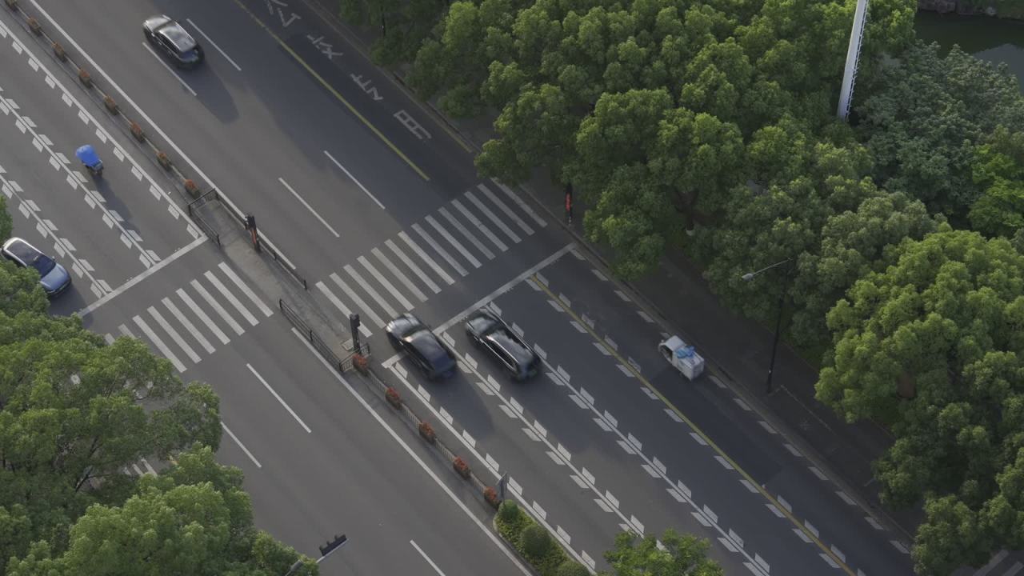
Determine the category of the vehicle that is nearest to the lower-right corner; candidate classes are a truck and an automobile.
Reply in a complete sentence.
Looking closely, the vehicle that is nearest to the lower-right corner is a truck.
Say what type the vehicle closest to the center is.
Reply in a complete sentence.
The vehicle closest to the center appears to be an automobile.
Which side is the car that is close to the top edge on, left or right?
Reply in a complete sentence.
The car that is close to the top edge appears in the left half of the scene.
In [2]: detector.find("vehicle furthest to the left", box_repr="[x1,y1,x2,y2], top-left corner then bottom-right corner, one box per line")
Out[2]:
[0,238,69,296]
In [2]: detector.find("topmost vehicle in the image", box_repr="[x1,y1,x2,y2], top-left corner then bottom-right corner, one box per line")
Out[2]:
[142,7,202,61]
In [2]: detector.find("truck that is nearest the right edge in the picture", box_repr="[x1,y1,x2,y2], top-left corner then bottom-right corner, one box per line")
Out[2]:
[660,327,708,377]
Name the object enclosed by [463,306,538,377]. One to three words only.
car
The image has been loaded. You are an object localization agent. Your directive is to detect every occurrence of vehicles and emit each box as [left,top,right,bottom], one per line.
[660,327,708,377]
[75,145,104,181]
[382,309,455,378]
[0,238,69,296]
[463,306,538,377]
[142,7,202,61]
